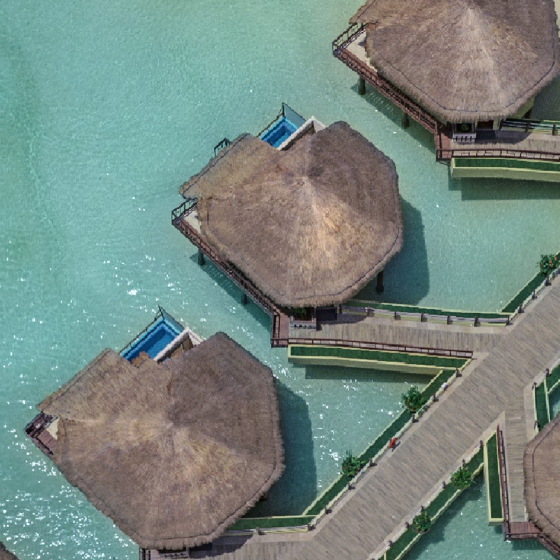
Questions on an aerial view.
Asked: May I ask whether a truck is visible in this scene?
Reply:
No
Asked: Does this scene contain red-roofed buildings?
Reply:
No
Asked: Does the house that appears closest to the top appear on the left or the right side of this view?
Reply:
right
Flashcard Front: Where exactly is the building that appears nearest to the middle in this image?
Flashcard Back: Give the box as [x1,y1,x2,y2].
[163,104,405,347]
